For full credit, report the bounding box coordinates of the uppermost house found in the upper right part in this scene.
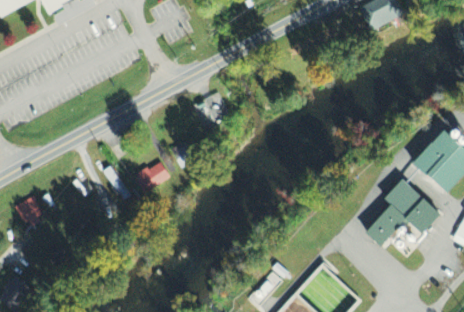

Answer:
[364,0,400,30]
